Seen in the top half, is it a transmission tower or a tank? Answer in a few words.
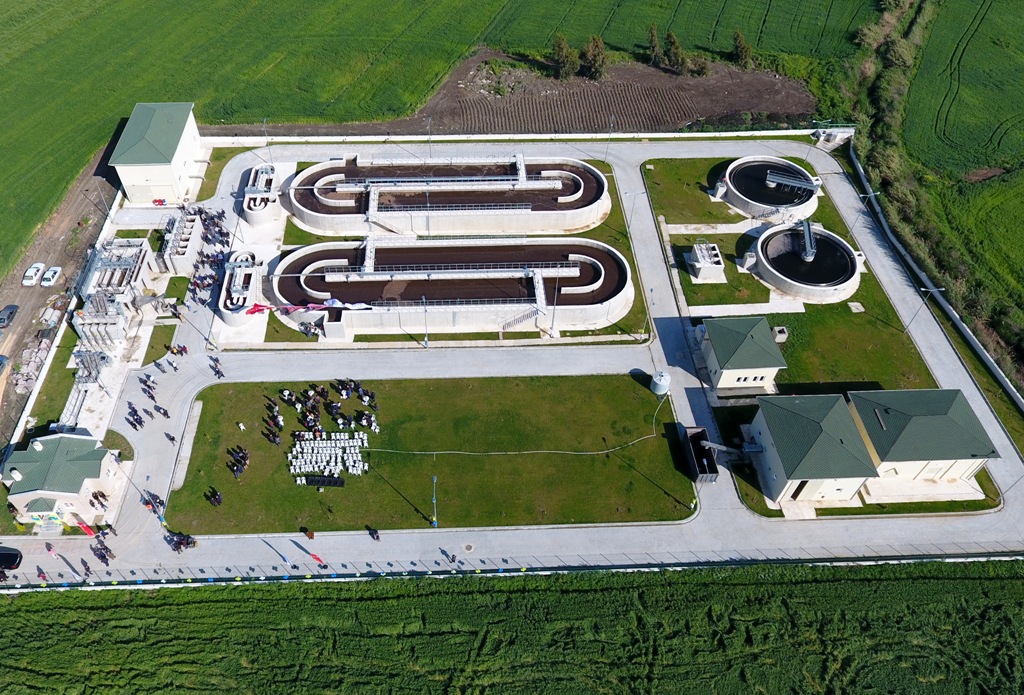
tank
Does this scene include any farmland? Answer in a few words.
Yes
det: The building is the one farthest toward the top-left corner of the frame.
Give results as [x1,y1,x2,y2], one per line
[109,103,209,202]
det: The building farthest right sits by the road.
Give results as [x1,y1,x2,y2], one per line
[847,388,1002,481]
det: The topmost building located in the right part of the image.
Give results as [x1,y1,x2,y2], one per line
[702,317,787,386]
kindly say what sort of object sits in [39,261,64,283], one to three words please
car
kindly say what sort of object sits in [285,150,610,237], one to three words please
storage tank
